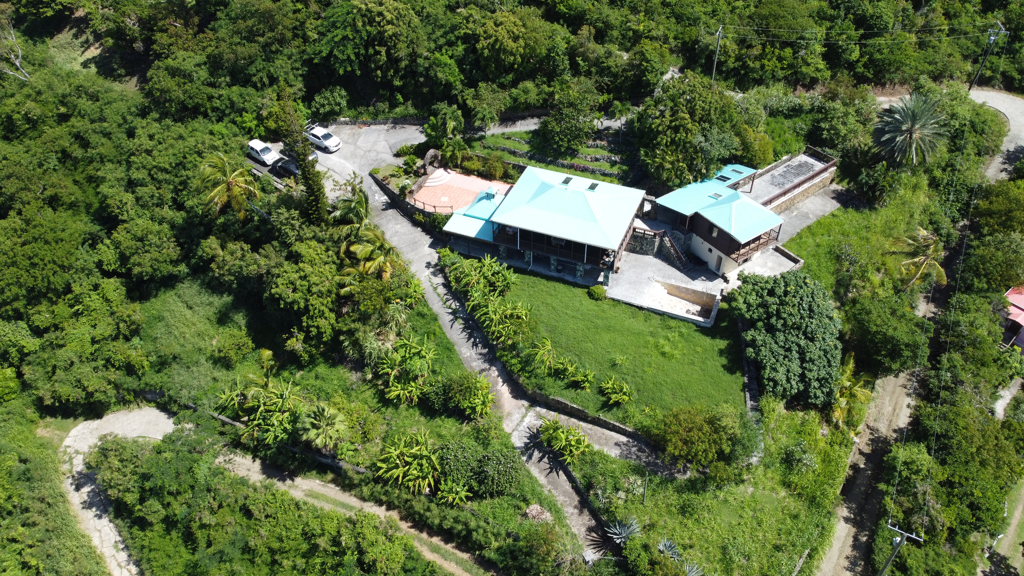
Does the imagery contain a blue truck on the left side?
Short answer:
No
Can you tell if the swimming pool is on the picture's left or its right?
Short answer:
right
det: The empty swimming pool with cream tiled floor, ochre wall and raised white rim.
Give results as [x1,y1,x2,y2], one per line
[644,278,721,335]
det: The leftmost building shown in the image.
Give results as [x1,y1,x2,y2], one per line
[440,165,645,289]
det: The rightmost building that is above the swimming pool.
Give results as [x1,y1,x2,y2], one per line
[660,168,788,275]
